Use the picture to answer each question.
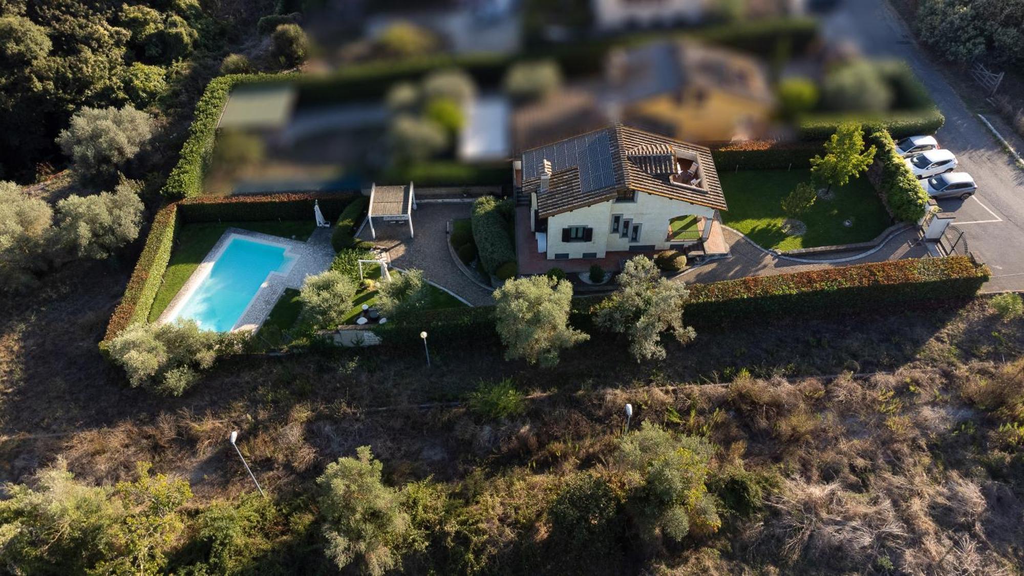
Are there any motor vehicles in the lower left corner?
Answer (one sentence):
No, the scene shows no motor vehicle in the lower left corner.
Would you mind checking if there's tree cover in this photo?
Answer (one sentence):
Yes, there is tree cover in the image.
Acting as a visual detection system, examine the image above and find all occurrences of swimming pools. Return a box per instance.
[161,233,304,335]
[222,173,373,196]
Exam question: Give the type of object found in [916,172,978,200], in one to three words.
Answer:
car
